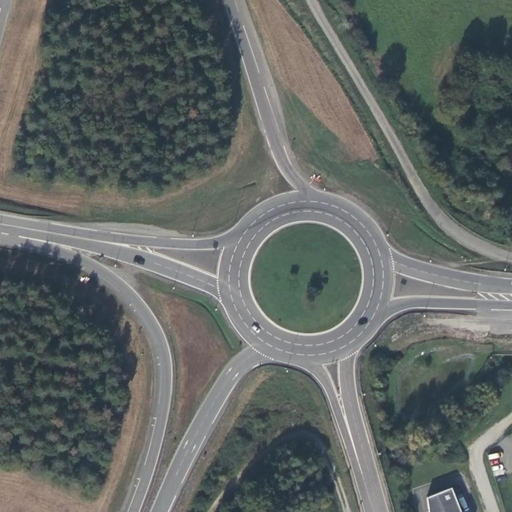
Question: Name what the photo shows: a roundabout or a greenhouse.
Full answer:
The image shows a roundabout.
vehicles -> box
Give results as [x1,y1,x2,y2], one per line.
[488,453,502,460]
[357,317,368,326]
[251,324,261,333]
[494,470,505,476]
[490,460,500,465]
[492,465,504,471]
[496,476,506,481]
[134,257,144,264]
[460,497,468,510]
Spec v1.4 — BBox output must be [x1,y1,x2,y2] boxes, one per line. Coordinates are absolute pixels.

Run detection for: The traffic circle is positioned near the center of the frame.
[218,186,396,368]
